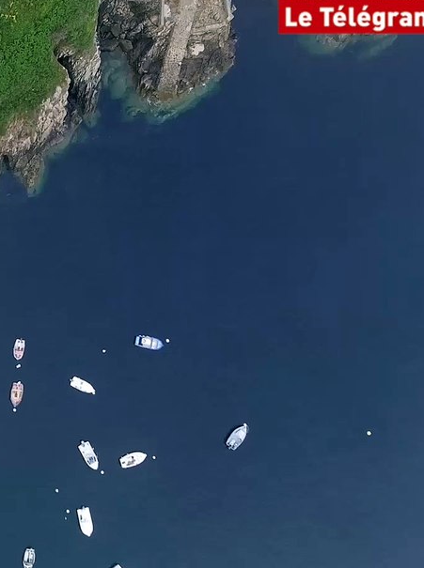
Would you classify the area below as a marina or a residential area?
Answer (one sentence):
It's a marina.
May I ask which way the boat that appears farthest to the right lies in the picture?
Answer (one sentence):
Seen from above, the boat that appears farthest to the right lies diagonally.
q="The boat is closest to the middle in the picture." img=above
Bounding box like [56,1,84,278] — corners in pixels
[136,334,166,351]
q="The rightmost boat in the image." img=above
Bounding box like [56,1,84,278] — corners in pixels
[227,425,249,451]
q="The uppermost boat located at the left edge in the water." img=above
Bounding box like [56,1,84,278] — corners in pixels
[14,338,27,360]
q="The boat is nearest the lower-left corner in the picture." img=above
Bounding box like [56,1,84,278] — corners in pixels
[23,549,36,568]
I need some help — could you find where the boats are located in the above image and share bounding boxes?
[227,425,249,451]
[78,507,94,539]
[23,549,36,568]
[136,334,166,351]
[11,381,25,408]
[70,376,96,395]
[121,452,149,468]
[80,441,101,472]
[14,338,27,360]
